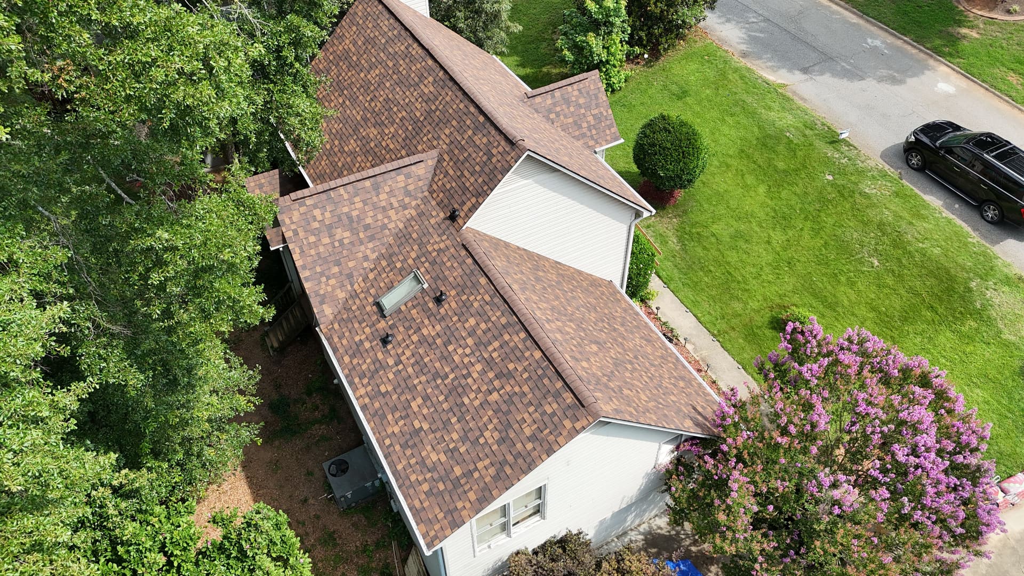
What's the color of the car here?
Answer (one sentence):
The car is black.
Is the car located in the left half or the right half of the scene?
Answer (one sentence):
The car appears in the right half of the scene.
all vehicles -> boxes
[901,119,1024,231]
